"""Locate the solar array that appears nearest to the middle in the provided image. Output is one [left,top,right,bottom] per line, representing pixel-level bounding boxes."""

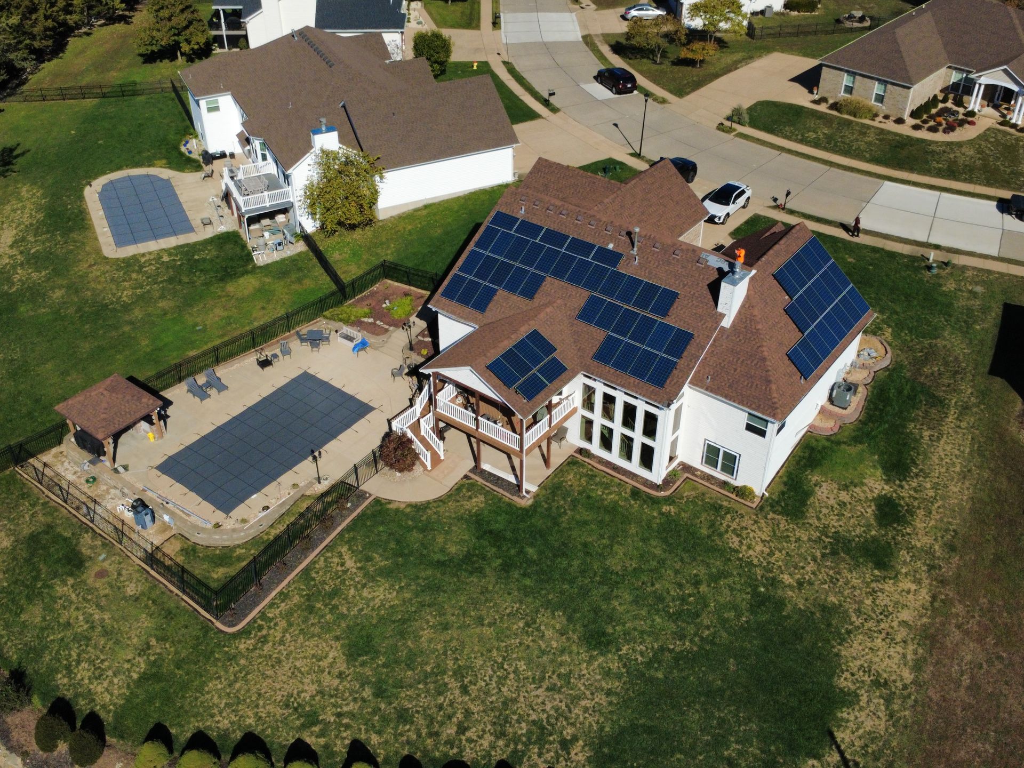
[488,328,567,400]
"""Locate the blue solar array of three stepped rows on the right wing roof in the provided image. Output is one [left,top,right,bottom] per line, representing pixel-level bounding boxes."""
[775,237,872,378]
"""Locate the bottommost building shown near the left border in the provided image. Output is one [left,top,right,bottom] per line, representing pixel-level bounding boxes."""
[51,372,167,470]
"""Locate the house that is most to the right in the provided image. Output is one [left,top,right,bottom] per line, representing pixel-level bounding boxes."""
[814,0,1024,126]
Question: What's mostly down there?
grass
